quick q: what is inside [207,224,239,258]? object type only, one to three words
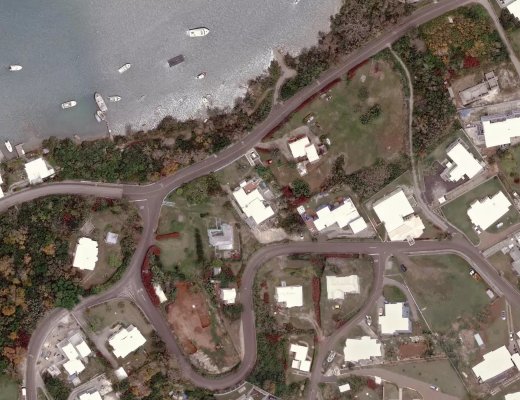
house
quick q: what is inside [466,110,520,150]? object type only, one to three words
house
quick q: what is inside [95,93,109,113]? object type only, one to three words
boat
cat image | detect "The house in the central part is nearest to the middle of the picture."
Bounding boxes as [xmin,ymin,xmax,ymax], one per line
[231,181,275,225]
